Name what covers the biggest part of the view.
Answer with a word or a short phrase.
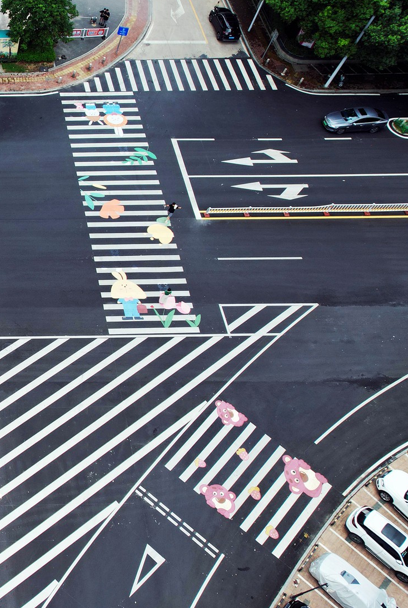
paved ground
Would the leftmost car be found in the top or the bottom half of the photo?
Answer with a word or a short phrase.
top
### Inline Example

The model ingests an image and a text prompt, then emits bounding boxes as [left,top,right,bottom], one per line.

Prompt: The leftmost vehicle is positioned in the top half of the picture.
[209,7,246,45]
